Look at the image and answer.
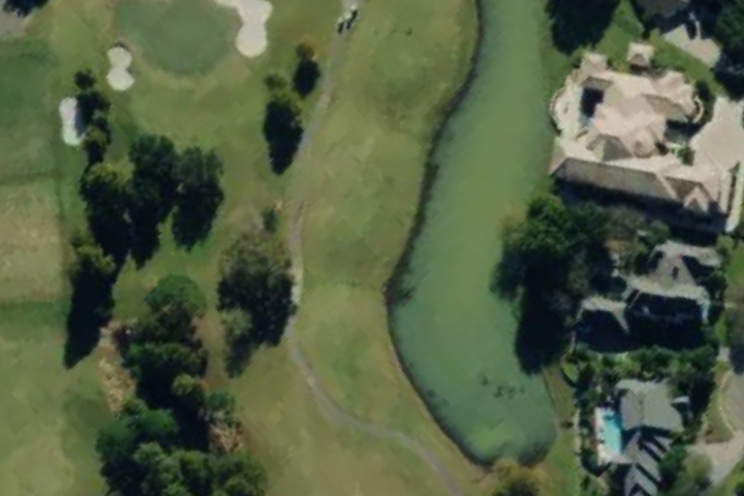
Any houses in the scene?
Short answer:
Yes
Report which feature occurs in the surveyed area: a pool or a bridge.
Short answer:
pool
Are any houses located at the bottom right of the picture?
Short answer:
Yes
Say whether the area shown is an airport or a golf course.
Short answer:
golf course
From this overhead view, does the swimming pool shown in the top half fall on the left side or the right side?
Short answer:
right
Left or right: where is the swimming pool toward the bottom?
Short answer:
right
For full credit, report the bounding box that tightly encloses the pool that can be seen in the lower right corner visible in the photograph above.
[601,411,623,453]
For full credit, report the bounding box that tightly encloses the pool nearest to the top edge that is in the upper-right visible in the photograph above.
[580,89,604,127]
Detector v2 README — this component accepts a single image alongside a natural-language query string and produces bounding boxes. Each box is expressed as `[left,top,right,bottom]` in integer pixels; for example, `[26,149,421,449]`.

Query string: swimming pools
[580,89,604,127]
[601,411,623,453]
